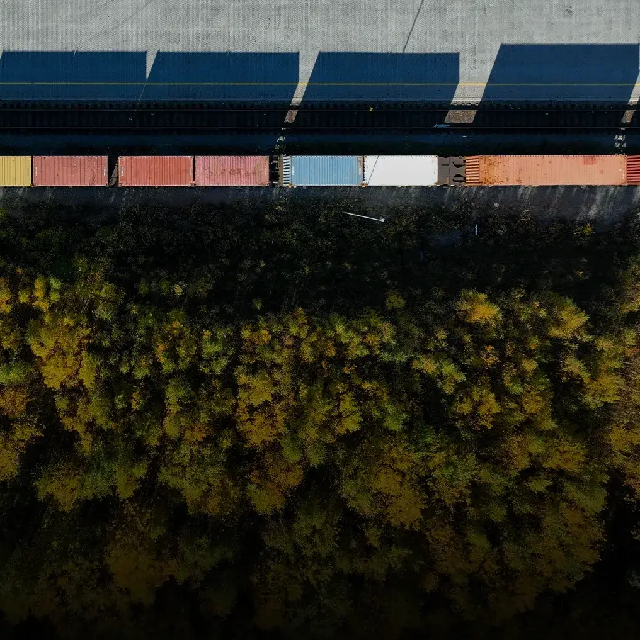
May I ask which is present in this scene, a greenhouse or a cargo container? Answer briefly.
cargo container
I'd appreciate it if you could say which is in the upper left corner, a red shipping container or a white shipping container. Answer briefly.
red shipping container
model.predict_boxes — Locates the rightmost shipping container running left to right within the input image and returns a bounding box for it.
[465,155,626,185]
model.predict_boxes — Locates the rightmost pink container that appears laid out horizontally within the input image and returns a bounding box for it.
[192,156,269,185]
